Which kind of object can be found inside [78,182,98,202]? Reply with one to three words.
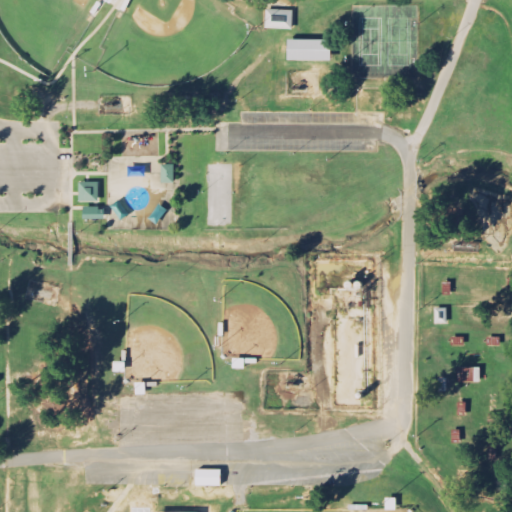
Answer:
house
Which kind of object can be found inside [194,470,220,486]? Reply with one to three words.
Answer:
barn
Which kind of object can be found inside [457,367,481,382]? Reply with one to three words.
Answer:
house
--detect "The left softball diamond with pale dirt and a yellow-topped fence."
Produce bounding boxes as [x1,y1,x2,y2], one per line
[126,294,212,382]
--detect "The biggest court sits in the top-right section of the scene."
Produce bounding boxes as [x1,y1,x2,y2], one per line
[353,5,418,76]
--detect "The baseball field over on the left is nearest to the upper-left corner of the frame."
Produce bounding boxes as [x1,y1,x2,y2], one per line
[0,0,92,75]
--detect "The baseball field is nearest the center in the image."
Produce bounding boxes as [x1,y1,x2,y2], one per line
[222,280,300,361]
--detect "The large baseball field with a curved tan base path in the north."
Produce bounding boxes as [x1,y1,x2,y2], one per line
[98,0,248,86]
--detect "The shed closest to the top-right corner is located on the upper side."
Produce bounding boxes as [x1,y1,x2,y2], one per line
[287,38,330,60]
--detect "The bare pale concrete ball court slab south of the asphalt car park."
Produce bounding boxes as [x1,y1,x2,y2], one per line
[208,164,232,226]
